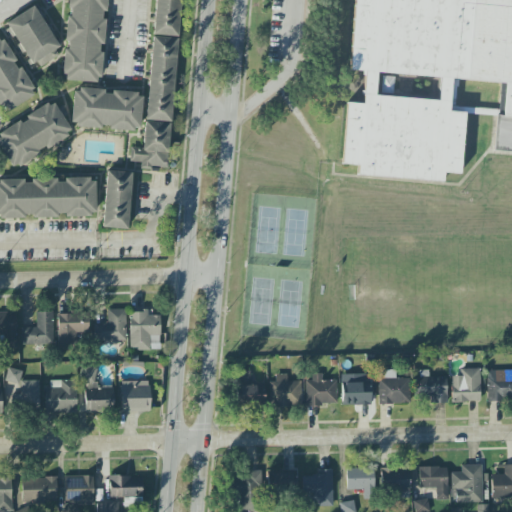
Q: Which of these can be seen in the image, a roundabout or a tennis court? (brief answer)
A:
tennis court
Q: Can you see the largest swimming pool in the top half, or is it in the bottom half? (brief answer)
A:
top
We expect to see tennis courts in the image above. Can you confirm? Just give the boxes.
[278,196,317,268]
[242,266,278,338]
[248,193,284,266]
[273,267,312,340]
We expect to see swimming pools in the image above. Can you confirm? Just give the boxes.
[118,366,148,381]
[98,364,115,386]
[340,359,352,370]
[60,135,125,165]
[450,354,467,376]
[102,341,125,356]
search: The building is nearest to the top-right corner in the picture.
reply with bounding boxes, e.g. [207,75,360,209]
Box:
[342,0,512,182]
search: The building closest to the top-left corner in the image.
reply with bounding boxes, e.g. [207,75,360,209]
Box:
[8,6,62,64]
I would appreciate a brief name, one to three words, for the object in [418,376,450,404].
house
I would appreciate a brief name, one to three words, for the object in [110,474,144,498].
house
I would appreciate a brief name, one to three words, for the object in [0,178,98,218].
building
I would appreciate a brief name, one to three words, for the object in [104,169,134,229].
building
